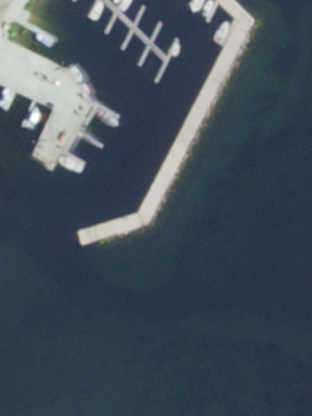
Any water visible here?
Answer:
Yes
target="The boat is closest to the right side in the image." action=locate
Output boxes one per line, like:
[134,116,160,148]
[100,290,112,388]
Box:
[214,22,228,46]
